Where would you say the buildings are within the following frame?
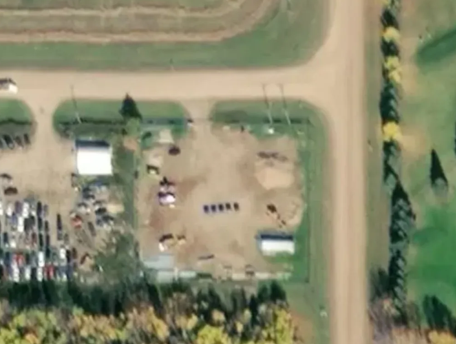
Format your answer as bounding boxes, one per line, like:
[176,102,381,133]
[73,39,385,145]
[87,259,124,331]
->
[77,144,113,181]
[261,240,295,257]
